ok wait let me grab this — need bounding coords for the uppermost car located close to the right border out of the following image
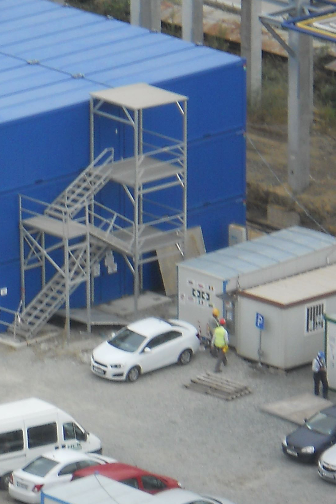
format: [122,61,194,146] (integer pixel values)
[276,412,336,467]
